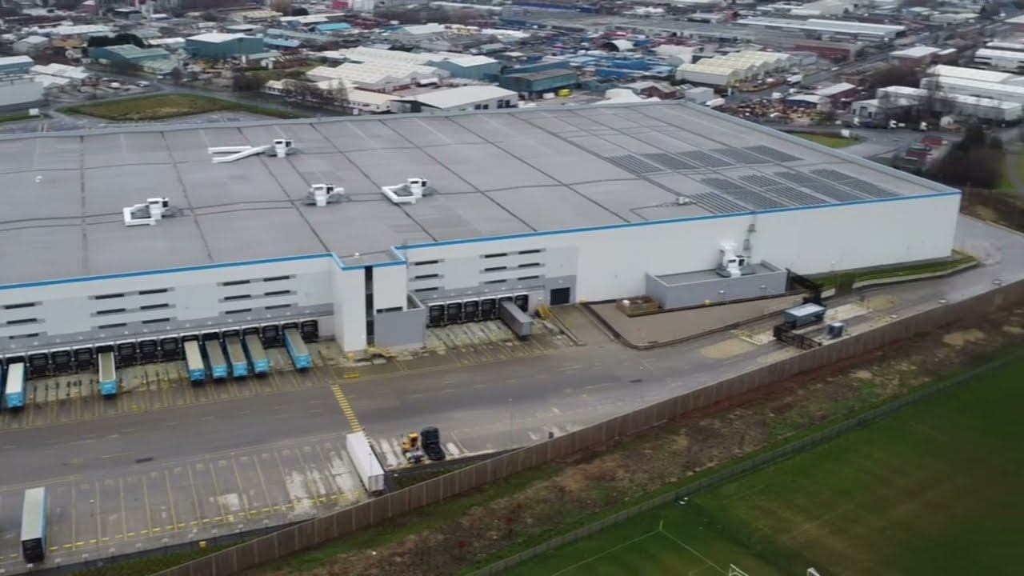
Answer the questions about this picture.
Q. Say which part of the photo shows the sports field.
bottom right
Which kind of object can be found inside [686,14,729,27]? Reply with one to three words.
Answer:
shed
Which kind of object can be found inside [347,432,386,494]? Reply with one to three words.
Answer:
trailer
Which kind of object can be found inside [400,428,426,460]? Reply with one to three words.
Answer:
work vehicle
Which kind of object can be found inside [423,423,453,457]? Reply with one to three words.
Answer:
truck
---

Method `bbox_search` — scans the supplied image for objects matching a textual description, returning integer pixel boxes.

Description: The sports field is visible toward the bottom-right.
[485,360,1024,576]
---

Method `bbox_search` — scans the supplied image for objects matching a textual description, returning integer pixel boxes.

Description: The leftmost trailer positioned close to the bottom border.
[21,486,48,561]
